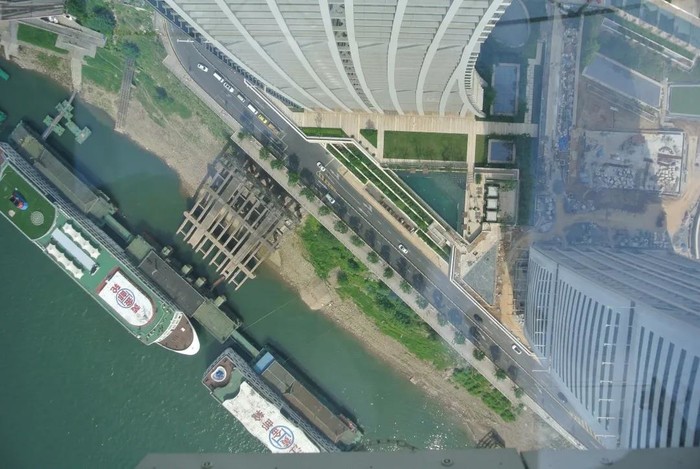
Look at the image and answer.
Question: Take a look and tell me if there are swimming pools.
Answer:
Yes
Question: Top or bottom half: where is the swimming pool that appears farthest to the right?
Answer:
top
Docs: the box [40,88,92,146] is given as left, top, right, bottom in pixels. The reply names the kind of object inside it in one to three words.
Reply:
pier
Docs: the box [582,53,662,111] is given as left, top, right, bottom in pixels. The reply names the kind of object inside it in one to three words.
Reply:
swimming pool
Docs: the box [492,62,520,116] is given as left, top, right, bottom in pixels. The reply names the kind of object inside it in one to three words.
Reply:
swimming pool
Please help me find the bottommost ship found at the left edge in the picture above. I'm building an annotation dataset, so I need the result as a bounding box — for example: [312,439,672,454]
[0,143,205,353]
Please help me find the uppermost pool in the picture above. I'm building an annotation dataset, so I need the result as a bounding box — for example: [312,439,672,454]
[489,0,532,45]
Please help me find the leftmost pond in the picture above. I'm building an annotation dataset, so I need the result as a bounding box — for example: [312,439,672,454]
[385,168,467,239]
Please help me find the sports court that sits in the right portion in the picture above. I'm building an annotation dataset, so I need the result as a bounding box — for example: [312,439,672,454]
[665,83,700,116]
